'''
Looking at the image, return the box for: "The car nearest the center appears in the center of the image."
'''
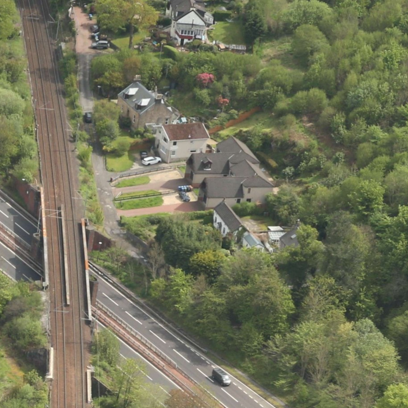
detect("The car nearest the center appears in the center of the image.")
[178,187,193,200]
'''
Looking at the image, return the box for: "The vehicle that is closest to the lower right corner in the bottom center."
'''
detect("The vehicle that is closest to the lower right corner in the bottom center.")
[212,364,233,384]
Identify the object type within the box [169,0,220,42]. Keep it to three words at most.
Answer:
house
